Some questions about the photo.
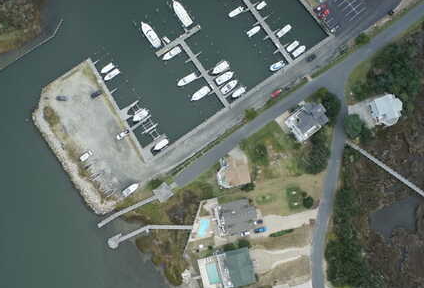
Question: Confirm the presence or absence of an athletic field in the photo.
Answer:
No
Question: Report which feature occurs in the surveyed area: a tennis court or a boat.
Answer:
boat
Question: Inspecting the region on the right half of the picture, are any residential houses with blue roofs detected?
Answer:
No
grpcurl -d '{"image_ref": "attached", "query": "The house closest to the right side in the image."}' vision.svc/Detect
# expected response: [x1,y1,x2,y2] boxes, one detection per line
[365,95,403,129]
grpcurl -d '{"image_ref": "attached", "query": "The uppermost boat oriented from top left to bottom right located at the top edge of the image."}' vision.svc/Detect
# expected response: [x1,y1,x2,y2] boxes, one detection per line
[172,0,193,28]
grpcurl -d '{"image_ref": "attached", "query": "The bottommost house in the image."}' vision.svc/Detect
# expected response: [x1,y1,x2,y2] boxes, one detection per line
[214,247,257,288]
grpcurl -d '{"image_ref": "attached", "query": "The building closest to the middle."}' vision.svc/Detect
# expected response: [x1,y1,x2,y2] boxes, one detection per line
[216,155,250,189]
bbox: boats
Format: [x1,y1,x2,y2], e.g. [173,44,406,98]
[220,80,238,95]
[275,25,291,39]
[172,0,193,28]
[162,46,182,59]
[291,46,306,58]
[287,39,300,52]
[209,61,231,76]
[101,62,115,73]
[104,68,121,80]
[191,85,212,100]
[214,72,235,86]
[231,85,247,98]
[256,0,267,9]
[141,21,161,49]
[270,60,286,70]
[246,26,261,38]
[132,107,150,122]
[177,72,198,85]
[152,137,170,150]
[228,6,246,17]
